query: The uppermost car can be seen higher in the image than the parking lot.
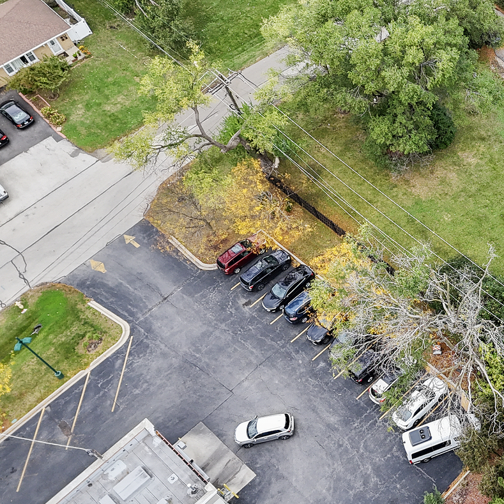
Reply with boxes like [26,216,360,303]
[0,98,40,130]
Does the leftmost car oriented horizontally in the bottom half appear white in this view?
Yes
